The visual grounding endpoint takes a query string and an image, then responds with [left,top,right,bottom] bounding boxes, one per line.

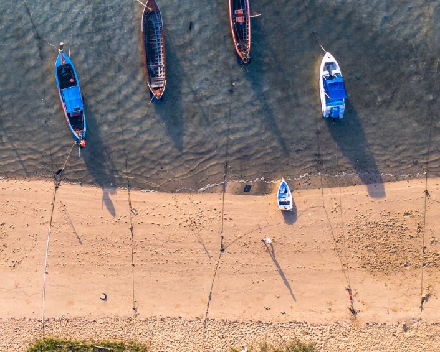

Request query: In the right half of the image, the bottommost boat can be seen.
[275,179,292,211]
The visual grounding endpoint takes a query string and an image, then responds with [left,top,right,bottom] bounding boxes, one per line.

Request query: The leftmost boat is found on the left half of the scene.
[55,43,88,159]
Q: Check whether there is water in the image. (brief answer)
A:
Yes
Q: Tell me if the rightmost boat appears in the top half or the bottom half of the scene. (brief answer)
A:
top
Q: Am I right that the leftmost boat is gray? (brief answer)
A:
No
